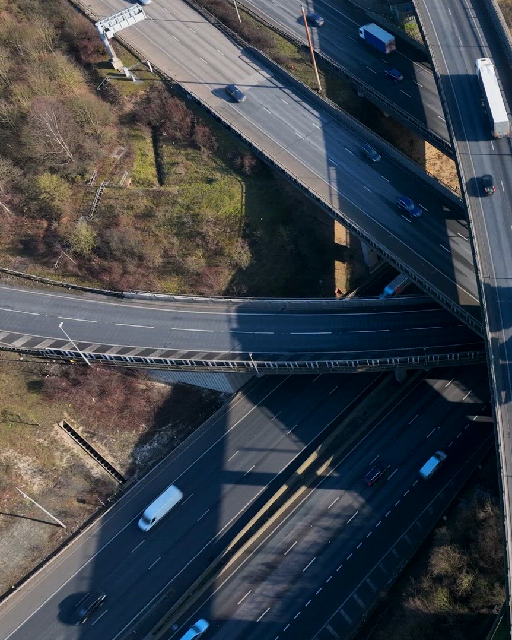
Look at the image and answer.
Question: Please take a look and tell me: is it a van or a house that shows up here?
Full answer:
Visible in the photo is a van.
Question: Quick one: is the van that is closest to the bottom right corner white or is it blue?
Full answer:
The van that is closest to the bottom right corner is blue.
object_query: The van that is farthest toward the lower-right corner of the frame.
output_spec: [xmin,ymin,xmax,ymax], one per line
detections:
[416,450,449,482]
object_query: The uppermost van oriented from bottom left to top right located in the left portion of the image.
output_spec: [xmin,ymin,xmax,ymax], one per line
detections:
[141,485,183,529]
